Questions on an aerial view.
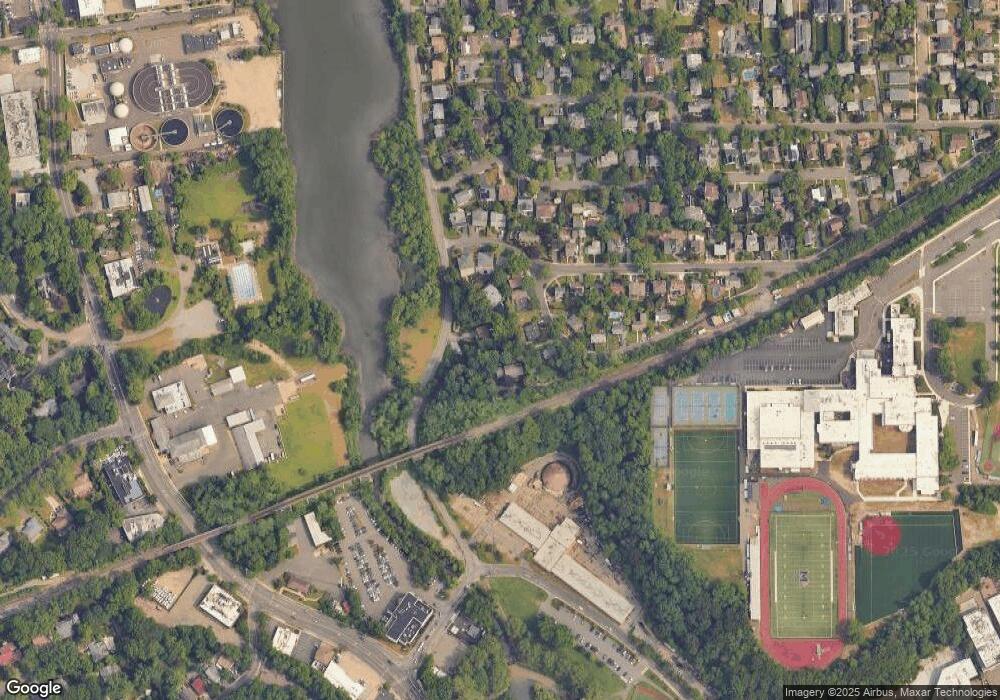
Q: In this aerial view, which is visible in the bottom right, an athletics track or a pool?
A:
athletics track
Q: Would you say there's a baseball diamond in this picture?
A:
Yes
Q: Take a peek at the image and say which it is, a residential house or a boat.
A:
residential house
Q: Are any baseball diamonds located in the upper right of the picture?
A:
No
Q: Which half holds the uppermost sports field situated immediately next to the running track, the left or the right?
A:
right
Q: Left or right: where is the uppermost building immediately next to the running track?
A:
right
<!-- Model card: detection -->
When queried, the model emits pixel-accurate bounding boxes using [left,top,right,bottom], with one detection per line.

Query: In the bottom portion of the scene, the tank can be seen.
[541,460,572,491]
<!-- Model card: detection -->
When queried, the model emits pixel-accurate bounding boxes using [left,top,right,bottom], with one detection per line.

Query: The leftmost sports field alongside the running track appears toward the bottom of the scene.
[674,430,740,545]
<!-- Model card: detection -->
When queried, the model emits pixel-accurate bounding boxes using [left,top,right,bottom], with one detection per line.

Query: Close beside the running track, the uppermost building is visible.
[746,304,938,495]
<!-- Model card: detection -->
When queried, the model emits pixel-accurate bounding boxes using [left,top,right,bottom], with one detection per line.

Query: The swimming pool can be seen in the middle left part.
[228,263,260,307]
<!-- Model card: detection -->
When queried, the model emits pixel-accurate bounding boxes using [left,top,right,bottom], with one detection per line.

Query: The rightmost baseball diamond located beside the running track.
[855,509,964,620]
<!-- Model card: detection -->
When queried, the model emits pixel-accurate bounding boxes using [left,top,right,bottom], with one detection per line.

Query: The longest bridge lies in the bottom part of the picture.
[239,436,446,528]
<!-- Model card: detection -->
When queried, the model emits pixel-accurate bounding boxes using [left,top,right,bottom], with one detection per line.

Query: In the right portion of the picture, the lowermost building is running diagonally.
[934,658,978,700]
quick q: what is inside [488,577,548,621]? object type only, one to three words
sports field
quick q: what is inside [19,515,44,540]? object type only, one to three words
house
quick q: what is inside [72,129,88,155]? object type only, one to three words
building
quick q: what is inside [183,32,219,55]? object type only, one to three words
building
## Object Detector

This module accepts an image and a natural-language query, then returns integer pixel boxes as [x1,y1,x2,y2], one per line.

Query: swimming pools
[742,68,758,81]
[228,263,260,307]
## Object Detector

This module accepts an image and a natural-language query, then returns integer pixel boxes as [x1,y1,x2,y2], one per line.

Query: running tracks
[760,477,850,669]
